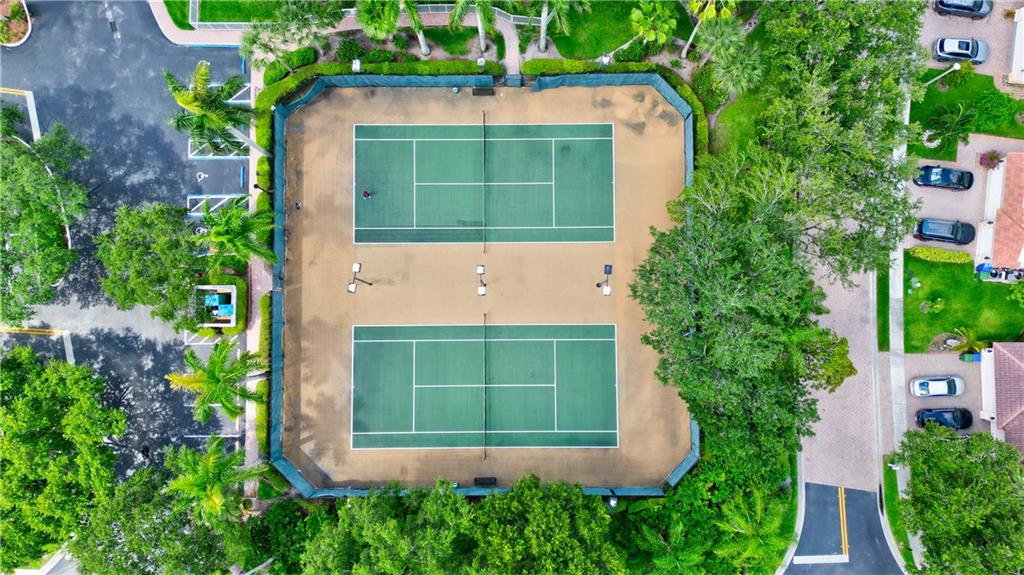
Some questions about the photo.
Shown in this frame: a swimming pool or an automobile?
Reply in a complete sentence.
Visible in the photo is an automobile.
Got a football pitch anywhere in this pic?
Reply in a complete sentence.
No, there is no football pitch in the image.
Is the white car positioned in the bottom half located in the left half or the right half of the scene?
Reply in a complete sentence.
The white car positioned in the bottom half sits on the right side.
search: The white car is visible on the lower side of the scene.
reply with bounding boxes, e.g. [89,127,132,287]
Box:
[908,373,965,399]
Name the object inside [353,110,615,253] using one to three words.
tennis court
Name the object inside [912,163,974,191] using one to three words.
car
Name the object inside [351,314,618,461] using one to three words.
tennis court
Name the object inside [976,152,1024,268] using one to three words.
house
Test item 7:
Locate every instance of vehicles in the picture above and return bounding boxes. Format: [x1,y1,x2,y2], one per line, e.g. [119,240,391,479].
[908,373,965,399]
[931,0,992,21]
[915,405,972,433]
[930,37,987,63]
[912,163,974,191]
[913,218,974,245]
